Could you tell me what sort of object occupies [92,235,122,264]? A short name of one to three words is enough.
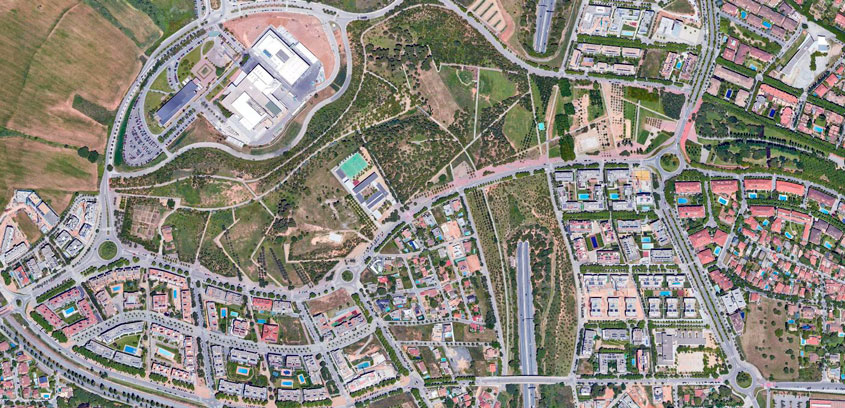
roundabout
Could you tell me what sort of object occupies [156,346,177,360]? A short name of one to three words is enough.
swimming pool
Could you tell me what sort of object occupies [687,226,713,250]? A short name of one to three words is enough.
house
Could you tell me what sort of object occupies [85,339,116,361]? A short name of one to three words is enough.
building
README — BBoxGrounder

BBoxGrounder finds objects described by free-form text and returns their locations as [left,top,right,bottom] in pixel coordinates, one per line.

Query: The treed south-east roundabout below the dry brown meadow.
[729,365,758,395]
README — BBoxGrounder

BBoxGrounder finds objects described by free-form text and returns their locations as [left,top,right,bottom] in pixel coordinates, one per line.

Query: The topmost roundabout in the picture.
[654,146,685,178]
